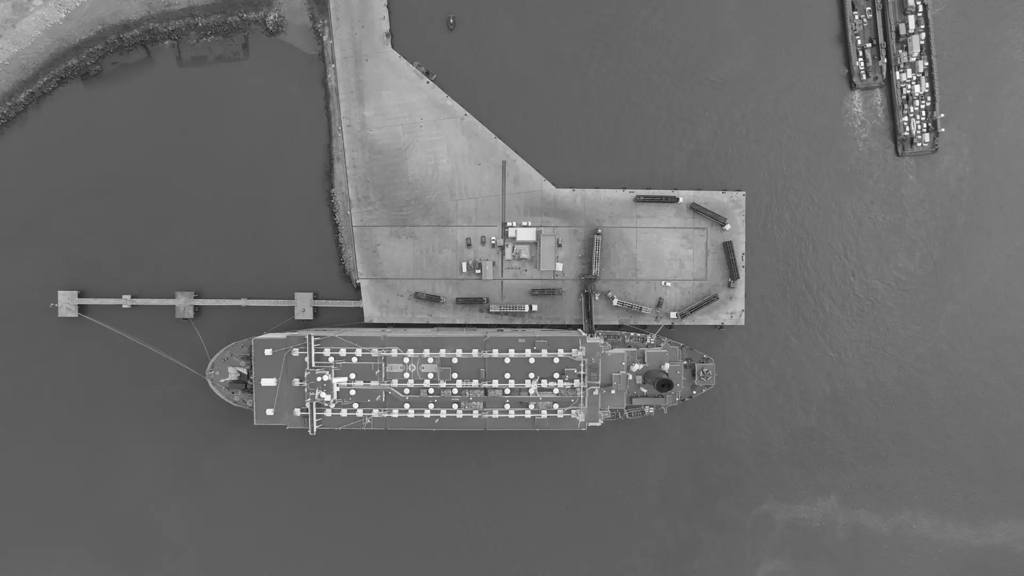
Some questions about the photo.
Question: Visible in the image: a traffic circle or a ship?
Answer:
ship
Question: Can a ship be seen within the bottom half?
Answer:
Yes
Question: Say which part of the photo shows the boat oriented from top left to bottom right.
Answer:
top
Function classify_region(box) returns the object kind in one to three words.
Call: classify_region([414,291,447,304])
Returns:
vehicle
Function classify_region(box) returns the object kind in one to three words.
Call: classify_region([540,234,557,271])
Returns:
building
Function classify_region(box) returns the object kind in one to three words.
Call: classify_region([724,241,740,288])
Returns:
vehicle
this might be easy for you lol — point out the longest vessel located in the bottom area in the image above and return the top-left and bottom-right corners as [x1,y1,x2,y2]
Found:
[206,327,718,435]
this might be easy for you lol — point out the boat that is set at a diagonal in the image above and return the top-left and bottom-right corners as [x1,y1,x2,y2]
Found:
[413,62,438,83]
